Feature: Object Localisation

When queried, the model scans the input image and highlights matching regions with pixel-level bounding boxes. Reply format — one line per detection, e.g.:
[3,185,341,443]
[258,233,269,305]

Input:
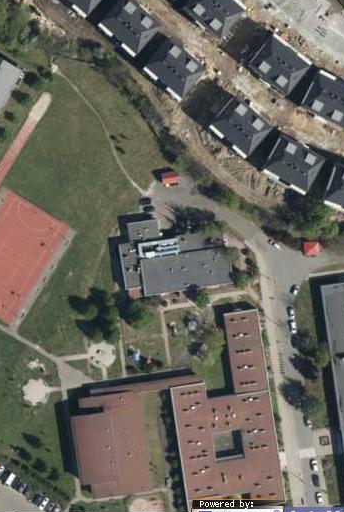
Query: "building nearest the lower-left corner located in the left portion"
[69,392,152,498]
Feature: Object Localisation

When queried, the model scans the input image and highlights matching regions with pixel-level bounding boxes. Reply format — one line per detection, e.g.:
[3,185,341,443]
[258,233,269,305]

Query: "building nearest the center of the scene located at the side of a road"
[117,220,234,296]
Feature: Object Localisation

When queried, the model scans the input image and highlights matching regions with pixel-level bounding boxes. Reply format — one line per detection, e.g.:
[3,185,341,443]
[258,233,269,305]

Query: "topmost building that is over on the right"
[182,0,249,39]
